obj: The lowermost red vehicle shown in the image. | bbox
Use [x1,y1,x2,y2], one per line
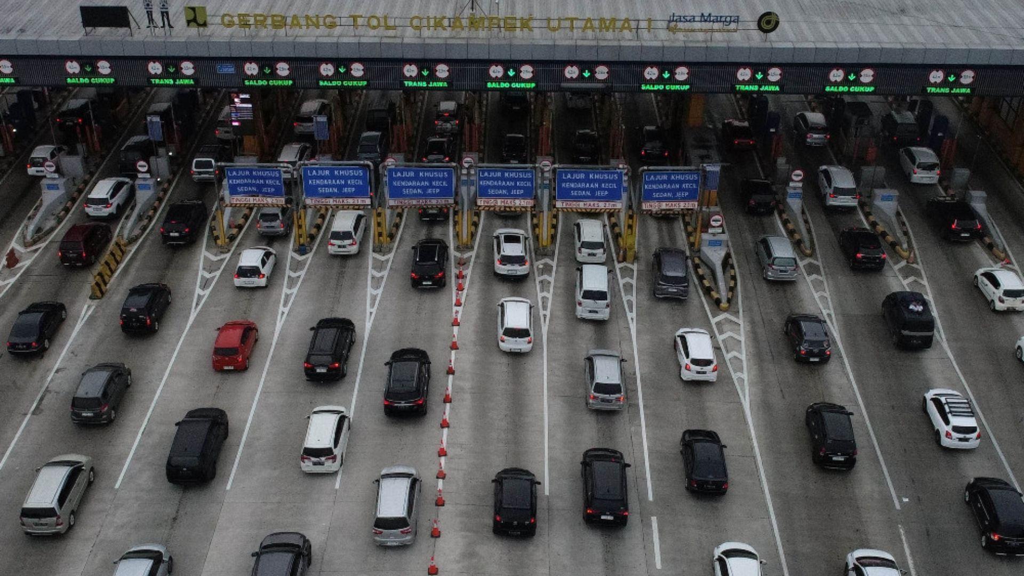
[212,319,261,371]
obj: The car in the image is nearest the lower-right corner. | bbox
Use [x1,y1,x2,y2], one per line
[950,469,1024,555]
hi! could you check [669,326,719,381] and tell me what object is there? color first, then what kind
white car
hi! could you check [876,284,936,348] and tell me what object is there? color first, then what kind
black car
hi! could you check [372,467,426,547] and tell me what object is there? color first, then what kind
gray car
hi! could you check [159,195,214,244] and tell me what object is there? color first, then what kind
black car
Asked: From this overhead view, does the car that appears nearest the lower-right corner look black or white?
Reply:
black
